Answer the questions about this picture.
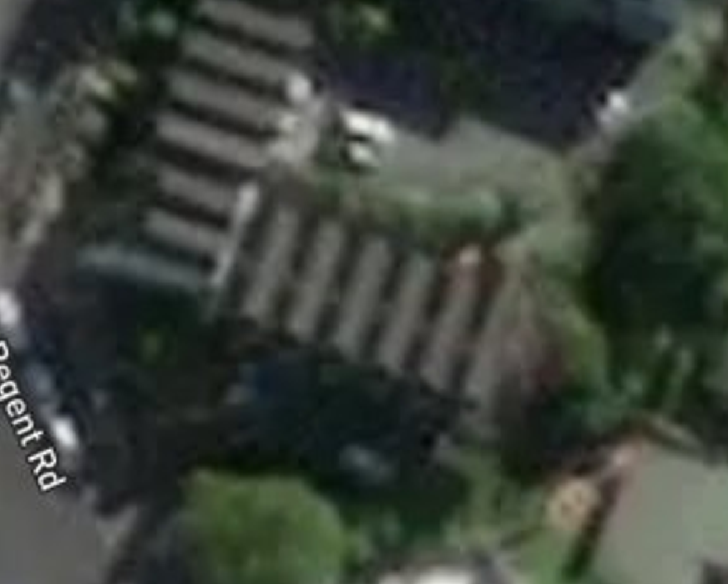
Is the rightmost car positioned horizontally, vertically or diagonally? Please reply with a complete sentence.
The rightmost car is oriented diagonally.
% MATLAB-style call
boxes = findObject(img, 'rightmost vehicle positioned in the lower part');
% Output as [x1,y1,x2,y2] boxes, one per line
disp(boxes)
[331,440,387,483]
